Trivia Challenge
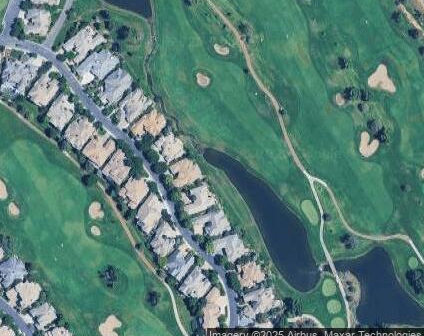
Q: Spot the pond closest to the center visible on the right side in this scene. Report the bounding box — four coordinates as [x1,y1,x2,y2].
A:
[203,147,321,290]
